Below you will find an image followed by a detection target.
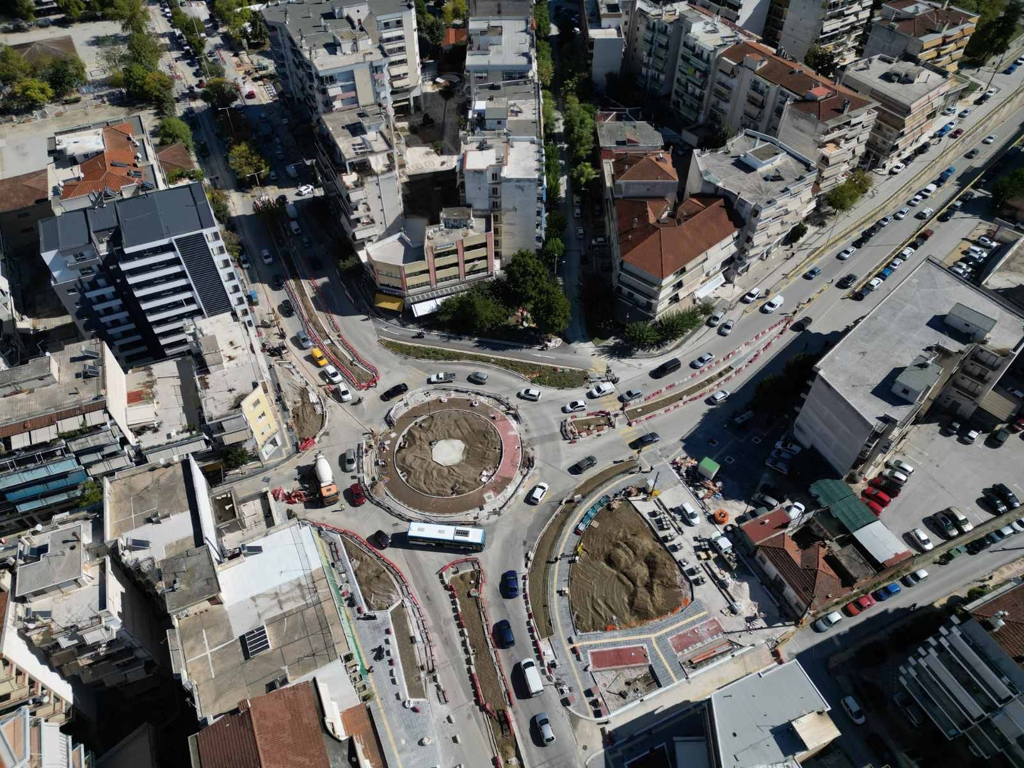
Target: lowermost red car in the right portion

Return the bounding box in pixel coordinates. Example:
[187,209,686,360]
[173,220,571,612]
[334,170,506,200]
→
[846,595,876,616]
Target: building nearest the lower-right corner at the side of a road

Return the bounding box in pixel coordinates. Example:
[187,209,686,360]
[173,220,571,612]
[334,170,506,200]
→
[893,581,1024,763]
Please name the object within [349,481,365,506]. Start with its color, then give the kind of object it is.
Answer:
red car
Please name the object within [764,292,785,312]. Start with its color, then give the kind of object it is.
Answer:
white vehicle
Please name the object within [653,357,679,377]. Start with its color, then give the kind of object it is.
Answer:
black vehicle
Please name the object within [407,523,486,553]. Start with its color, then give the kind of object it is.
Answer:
white bus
